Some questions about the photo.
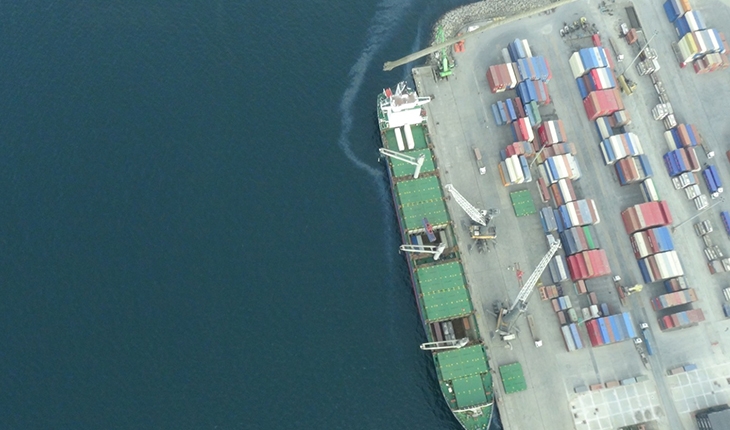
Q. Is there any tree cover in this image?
No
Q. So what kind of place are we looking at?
port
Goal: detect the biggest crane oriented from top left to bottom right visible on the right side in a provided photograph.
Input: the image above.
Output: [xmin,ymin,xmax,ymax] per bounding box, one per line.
[443,183,498,250]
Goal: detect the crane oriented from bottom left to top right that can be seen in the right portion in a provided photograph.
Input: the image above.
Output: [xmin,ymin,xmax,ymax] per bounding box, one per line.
[486,237,561,343]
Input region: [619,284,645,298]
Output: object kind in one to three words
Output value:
work vehicle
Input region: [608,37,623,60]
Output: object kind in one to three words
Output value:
vehicle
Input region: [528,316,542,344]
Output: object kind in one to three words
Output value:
vehicle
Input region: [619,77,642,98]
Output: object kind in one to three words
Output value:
work vehicle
